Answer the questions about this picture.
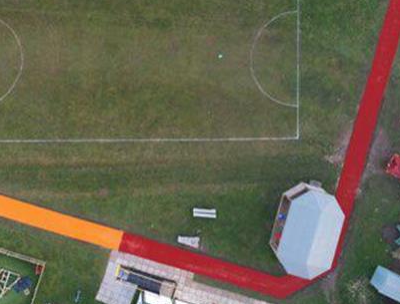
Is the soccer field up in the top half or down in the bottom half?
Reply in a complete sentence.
The soccer field sits in the top half of the picture.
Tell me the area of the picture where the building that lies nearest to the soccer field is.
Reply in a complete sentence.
The building that lies nearest to the soccer field appears toward the bottom right of the photo.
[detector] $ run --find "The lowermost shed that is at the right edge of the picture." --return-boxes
[359,258,400,302]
